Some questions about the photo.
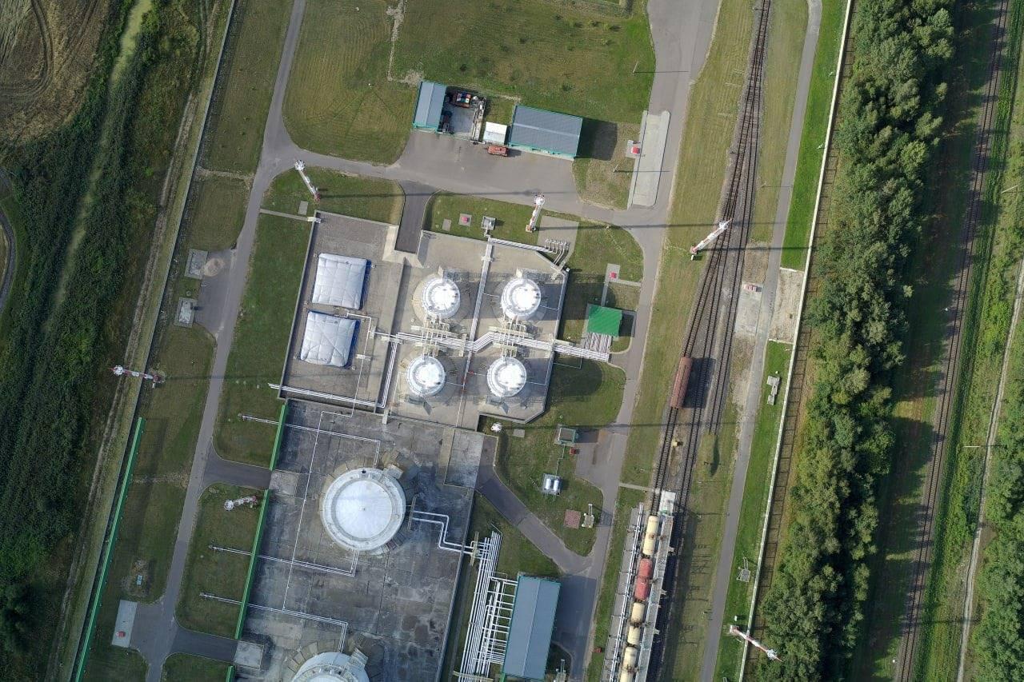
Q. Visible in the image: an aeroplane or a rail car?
rail car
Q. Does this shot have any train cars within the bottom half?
Yes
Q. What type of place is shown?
industrial area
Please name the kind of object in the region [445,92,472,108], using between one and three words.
vehicle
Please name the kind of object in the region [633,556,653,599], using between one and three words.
rail car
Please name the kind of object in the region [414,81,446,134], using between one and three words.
building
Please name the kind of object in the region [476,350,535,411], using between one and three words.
storage tank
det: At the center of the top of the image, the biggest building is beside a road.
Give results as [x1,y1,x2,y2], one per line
[509,105,582,160]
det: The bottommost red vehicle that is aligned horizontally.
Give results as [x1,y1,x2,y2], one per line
[487,142,509,156]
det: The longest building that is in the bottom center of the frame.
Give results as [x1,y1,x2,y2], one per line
[503,576,561,680]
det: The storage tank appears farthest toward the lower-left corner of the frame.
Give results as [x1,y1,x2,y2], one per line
[280,639,381,682]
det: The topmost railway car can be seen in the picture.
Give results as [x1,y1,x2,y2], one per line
[670,358,696,411]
